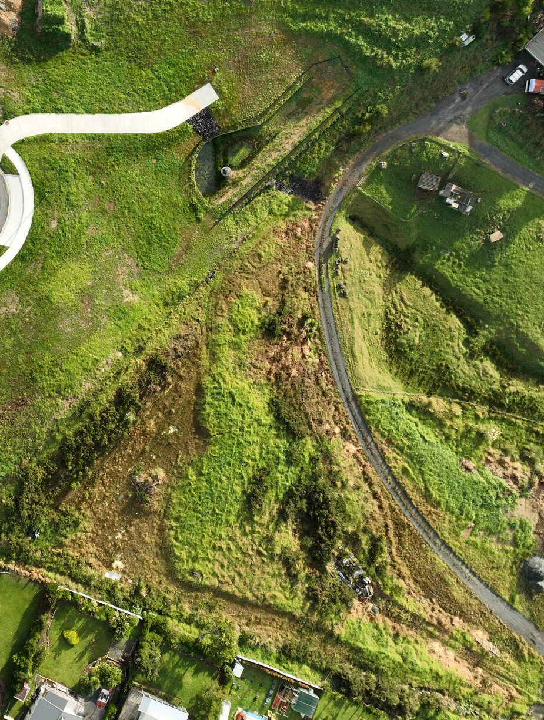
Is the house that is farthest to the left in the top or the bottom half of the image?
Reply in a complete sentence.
It is in the bottom half that the house that is farthest to the left appears.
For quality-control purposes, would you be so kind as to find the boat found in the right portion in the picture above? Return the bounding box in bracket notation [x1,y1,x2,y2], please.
[457,36,475,48]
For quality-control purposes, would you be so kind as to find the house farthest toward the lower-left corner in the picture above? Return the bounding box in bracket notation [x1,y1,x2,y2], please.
[34,681,85,720]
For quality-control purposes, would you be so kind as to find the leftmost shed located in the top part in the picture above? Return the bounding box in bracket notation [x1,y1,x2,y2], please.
[417,172,442,189]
